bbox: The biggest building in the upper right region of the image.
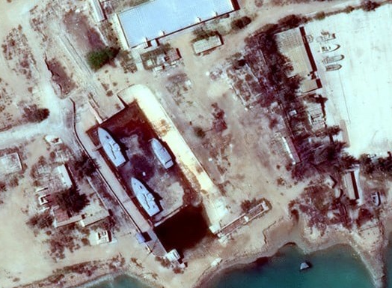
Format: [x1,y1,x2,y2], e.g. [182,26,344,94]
[274,27,317,78]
